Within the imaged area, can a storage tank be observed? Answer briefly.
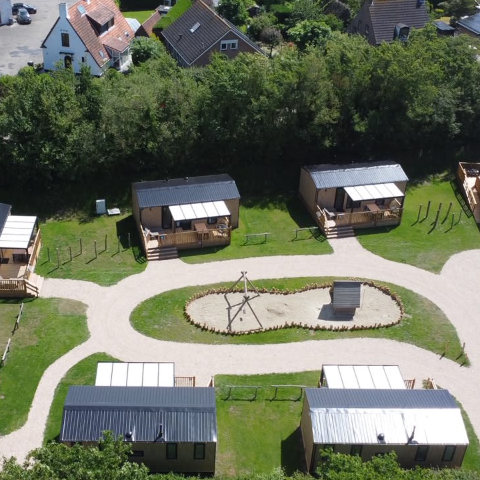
No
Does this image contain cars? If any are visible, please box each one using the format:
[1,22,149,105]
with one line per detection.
[10,0,45,14]
[18,5,34,23]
